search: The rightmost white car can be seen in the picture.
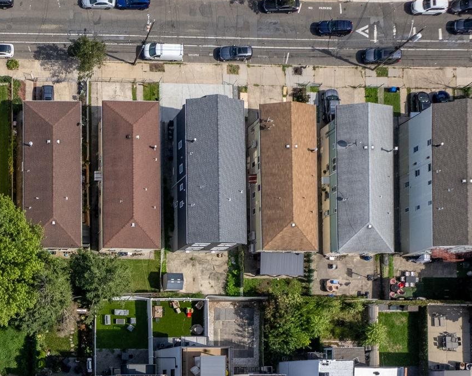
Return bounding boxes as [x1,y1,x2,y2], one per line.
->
[411,0,448,15]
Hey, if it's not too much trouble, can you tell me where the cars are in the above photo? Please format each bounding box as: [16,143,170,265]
[218,44,253,63]
[452,18,472,36]
[261,0,296,14]
[412,92,431,117]
[321,90,342,119]
[316,18,354,36]
[0,0,11,10]
[0,44,15,60]
[432,88,451,103]
[364,46,400,65]
[115,0,149,11]
[411,0,448,15]
[449,0,472,15]
[81,0,114,11]
[40,82,56,102]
